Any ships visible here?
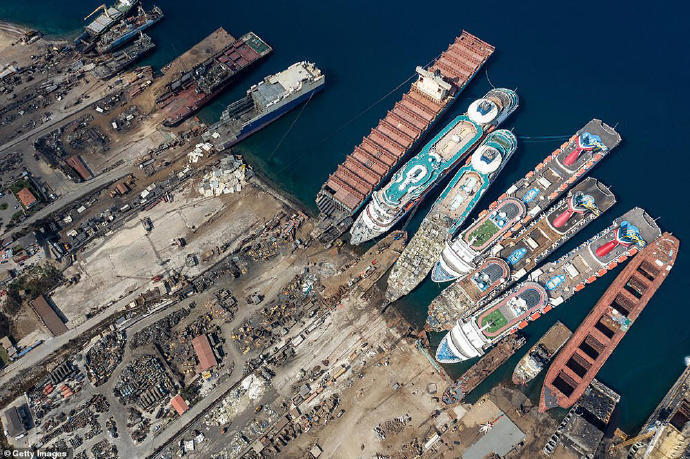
Yes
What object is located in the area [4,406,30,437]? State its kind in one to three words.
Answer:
building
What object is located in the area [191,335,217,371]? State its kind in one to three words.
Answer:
shed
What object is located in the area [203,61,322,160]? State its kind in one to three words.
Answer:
ship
